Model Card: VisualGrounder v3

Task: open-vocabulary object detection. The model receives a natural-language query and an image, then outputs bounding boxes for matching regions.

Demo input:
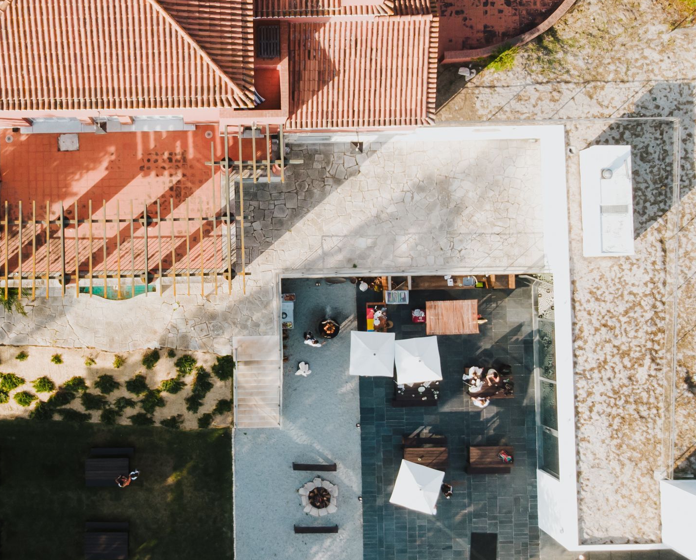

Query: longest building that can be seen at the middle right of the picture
[419,125,666,551]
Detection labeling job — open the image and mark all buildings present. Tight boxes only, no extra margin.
[0,0,449,144]
[419,125,666,551]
